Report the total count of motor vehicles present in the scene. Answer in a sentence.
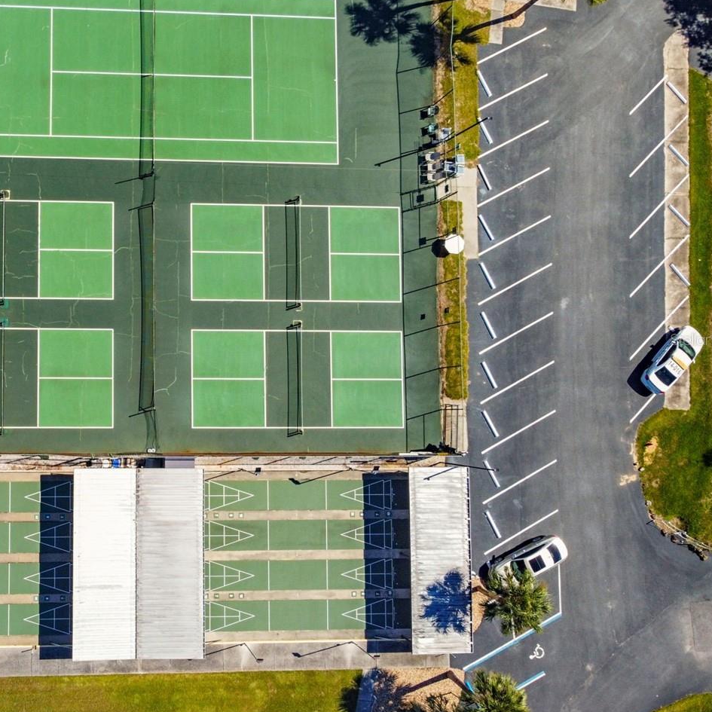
I count 2 motor vehicles.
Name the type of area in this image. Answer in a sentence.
This looks like a sports ground.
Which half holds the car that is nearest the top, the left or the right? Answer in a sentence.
You can find the car that is nearest the top on the right side of the picture.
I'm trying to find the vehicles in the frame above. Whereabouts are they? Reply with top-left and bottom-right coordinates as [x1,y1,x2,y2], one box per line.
[643,327,701,394]
[491,534,567,583]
